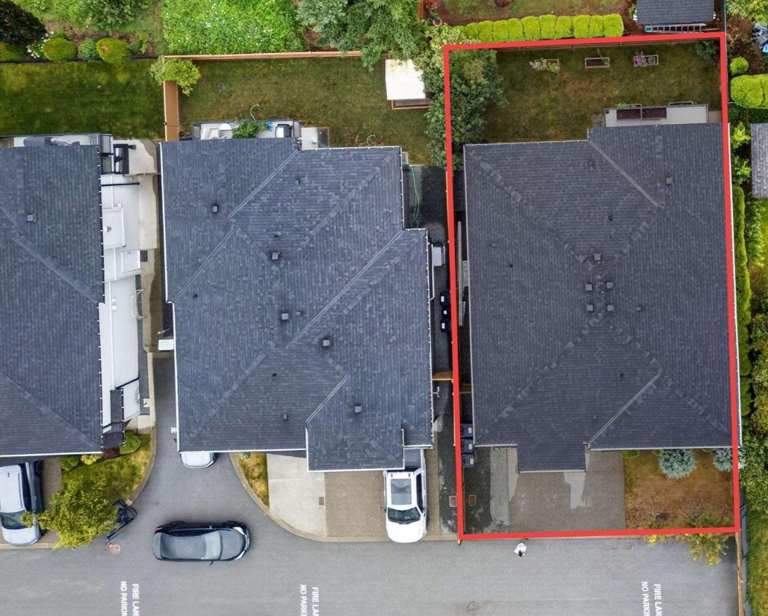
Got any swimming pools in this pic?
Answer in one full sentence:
No, there appears to be no swimming pool in this shot.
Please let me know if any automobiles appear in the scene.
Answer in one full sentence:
Yes, the frame does contain an automobile.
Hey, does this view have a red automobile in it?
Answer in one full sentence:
No, I can see no red automobile in this picture.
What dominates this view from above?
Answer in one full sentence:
Most of the picture is covered by buildings.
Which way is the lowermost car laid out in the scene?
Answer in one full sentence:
What the image shows is the lowermost car lying from left to right.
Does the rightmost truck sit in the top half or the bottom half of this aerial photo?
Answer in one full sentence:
It is in the bottom half that the rightmost truck appears.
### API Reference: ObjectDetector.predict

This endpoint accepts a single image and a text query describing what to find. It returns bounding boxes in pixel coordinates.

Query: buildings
[384,58,431,108]
[636,0,717,26]
[158,138,439,473]
[462,123,738,473]
[752,123,768,198]
[0,146,148,457]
